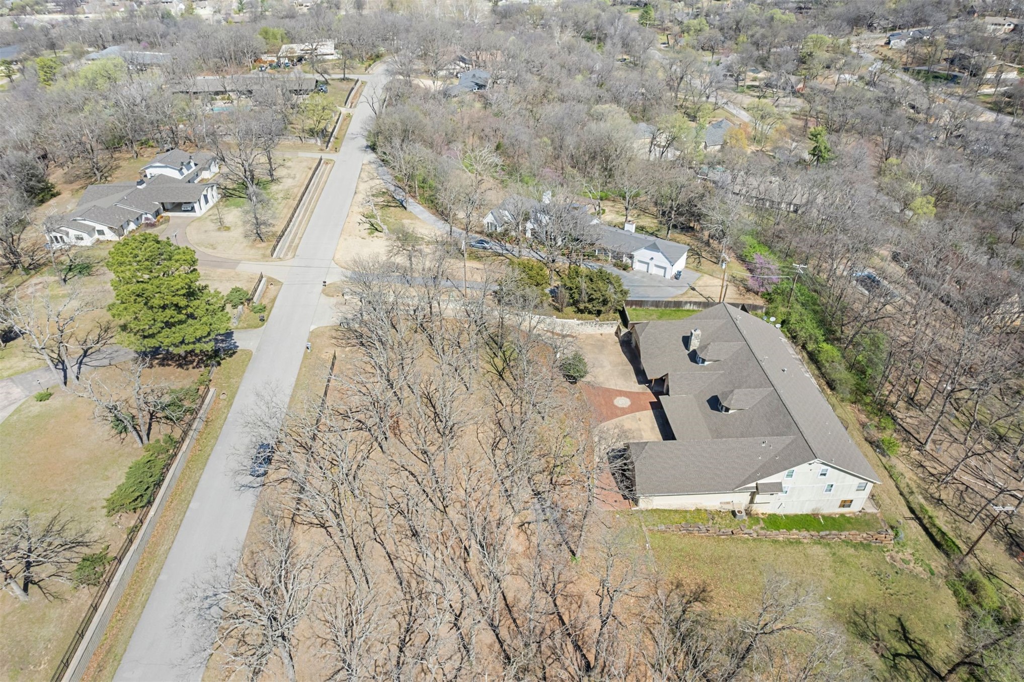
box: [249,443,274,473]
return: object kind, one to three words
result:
car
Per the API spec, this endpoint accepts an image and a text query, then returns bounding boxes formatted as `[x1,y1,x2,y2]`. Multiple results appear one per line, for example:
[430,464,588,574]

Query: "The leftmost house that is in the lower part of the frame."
[620,301,882,520]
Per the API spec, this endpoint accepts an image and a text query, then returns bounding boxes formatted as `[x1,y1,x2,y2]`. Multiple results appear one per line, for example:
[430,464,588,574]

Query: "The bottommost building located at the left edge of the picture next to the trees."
[29,147,227,248]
